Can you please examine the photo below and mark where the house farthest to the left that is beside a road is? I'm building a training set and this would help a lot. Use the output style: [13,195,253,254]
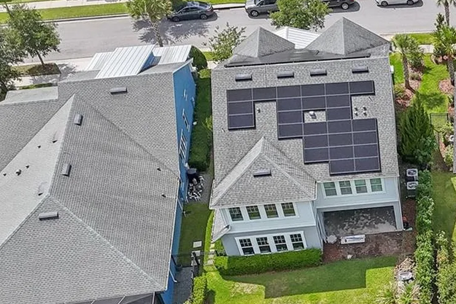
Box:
[0,47,204,304]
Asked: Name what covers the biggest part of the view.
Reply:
buildings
